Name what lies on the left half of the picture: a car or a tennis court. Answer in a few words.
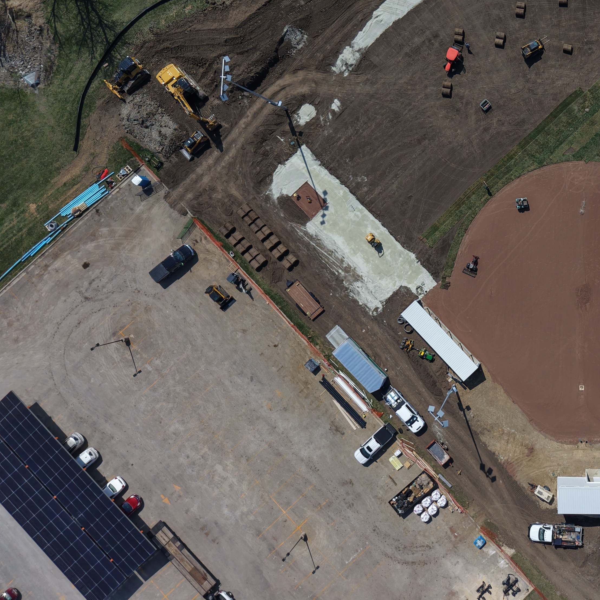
car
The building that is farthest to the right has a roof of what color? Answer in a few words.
white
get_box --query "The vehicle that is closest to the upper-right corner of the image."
[519,37,551,60]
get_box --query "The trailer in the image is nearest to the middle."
[285,278,324,319]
